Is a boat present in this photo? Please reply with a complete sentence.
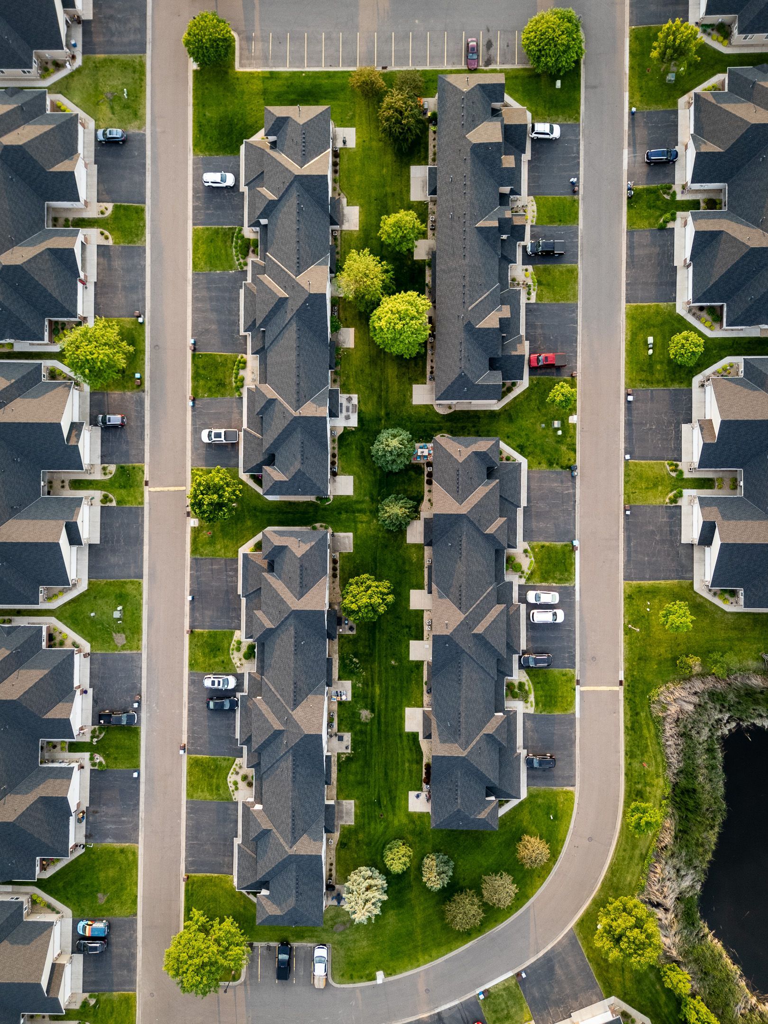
No, I can see no boat in this picture.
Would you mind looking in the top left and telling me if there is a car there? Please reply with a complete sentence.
Yes, in the top left there is a car.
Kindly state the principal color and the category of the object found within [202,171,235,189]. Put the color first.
white car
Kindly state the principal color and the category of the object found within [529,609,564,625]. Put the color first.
white car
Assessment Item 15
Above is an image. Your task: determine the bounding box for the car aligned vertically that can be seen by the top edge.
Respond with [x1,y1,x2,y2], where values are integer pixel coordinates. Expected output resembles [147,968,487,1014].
[466,37,480,72]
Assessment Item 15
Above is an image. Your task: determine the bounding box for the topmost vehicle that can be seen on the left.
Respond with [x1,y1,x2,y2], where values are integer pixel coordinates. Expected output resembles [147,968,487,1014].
[97,127,128,145]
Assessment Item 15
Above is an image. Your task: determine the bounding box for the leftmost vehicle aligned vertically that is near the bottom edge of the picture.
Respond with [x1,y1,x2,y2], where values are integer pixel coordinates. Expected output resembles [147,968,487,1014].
[276,939,292,982]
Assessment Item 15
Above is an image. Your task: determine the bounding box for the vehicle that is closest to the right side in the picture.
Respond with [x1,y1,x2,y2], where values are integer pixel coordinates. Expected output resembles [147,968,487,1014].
[643,147,678,166]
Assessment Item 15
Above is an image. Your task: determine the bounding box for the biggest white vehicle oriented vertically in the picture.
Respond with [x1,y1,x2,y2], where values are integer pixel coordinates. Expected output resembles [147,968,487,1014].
[312,943,328,979]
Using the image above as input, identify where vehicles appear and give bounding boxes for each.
[276,939,292,982]
[98,710,139,727]
[206,697,238,712]
[520,653,553,669]
[77,919,111,939]
[529,122,560,140]
[77,938,109,956]
[466,37,480,72]
[526,239,566,257]
[97,127,128,145]
[643,147,678,166]
[202,171,235,189]
[526,590,559,605]
[529,609,564,625]
[525,753,556,770]
[312,943,328,979]
[528,352,568,368]
[203,675,237,691]
[96,413,128,428]
[202,428,240,444]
